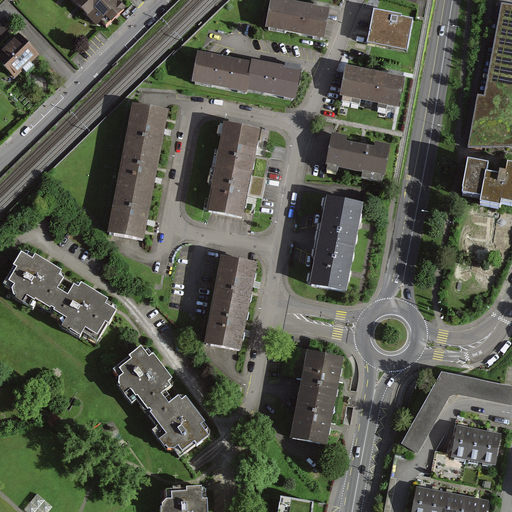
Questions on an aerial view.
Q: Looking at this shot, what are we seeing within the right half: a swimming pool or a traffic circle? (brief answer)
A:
traffic circle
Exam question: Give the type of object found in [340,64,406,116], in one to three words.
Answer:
building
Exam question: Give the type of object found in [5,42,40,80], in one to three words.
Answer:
house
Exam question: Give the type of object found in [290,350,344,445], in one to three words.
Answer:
building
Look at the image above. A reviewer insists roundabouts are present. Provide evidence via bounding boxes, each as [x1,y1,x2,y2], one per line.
[354,298,428,372]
